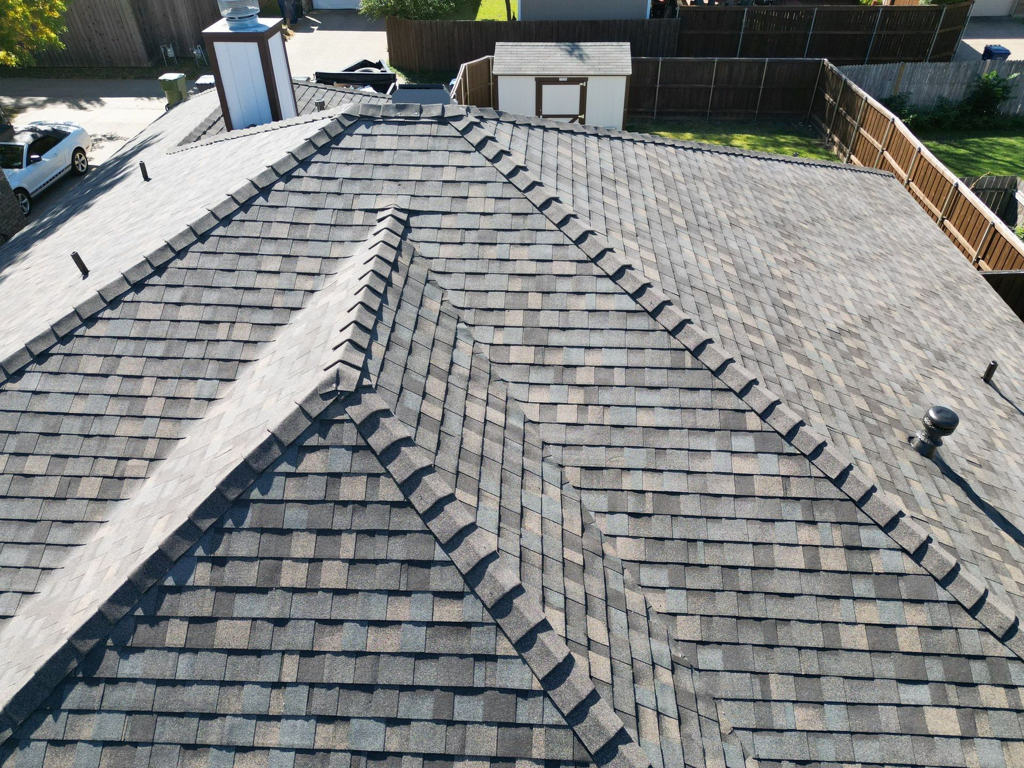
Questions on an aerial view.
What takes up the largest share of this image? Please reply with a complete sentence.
What you mostly see from above here is buildings.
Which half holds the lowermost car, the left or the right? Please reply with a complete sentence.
You can find the lowermost car on the left side of the picture.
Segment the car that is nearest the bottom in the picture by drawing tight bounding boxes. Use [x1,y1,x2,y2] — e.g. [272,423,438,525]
[0,117,89,220]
